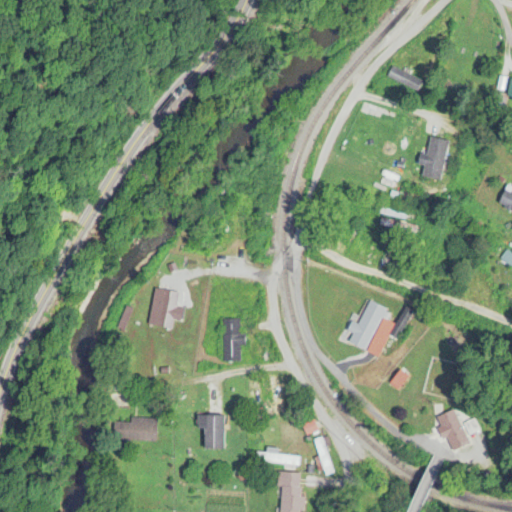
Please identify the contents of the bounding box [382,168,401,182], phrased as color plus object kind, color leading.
white vehicle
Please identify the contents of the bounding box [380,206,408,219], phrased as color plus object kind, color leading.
white vehicle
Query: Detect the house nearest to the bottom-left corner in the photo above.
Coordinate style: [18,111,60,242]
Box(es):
[114,418,158,442]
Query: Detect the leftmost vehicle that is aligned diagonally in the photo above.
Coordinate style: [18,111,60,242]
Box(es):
[158,88,186,116]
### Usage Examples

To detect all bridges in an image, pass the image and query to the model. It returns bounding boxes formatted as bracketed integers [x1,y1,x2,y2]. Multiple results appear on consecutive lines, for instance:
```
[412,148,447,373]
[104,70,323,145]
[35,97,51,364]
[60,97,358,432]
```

[407,454,445,512]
